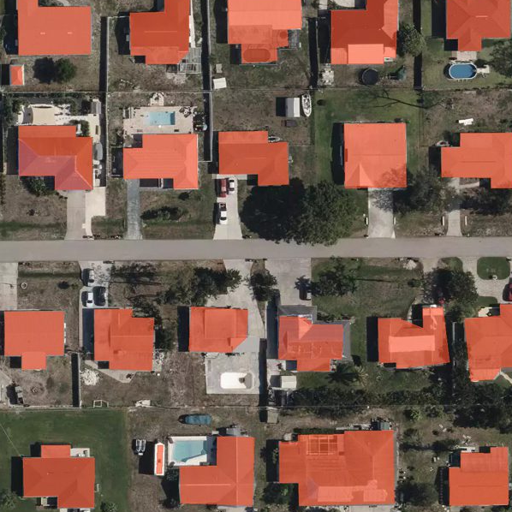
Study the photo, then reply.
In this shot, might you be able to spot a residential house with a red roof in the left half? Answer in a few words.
Yes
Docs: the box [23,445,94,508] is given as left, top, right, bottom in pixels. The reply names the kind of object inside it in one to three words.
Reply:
house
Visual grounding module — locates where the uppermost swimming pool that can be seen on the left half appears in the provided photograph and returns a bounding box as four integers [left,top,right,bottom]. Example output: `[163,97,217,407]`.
[144,109,177,125]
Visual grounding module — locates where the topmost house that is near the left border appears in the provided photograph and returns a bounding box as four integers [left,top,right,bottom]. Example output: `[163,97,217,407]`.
[17,0,91,54]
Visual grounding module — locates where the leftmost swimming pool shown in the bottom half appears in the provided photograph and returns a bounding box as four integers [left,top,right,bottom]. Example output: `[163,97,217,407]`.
[172,439,209,463]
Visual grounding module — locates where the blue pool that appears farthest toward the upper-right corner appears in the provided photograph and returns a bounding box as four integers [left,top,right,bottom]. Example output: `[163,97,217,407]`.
[450,62,477,79]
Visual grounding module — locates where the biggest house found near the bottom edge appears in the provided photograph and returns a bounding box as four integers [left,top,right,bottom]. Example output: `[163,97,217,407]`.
[280,431,396,506]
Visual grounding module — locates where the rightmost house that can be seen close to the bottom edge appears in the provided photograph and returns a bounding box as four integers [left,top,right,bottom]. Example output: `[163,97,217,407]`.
[451,447,510,505]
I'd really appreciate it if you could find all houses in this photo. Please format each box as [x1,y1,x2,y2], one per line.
[466,303,512,381]
[131,0,202,73]
[345,122,408,187]
[219,131,289,185]
[181,437,255,506]
[379,307,451,367]
[4,310,64,368]
[332,0,400,63]
[94,308,155,370]
[451,447,510,505]
[19,125,93,190]
[190,307,248,351]
[17,0,91,54]
[123,133,198,188]
[448,0,512,49]
[23,445,94,508]
[442,132,512,188]
[280,431,396,506]
[228,0,303,63]
[278,305,351,370]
